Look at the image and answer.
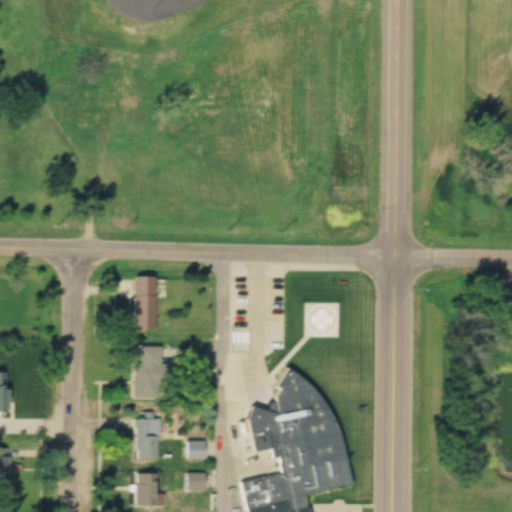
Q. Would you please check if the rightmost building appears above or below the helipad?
below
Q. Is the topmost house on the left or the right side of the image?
left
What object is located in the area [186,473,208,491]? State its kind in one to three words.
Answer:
building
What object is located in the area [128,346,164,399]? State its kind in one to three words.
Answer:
house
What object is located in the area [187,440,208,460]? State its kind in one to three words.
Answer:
building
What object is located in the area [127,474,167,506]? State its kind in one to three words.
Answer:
house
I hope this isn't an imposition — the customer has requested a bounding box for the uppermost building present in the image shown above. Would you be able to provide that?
[136,277,158,330]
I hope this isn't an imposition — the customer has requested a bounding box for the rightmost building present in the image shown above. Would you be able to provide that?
[240,368,354,512]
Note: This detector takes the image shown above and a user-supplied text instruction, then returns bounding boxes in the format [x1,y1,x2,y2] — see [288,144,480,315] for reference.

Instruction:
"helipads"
[304,302,339,338]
